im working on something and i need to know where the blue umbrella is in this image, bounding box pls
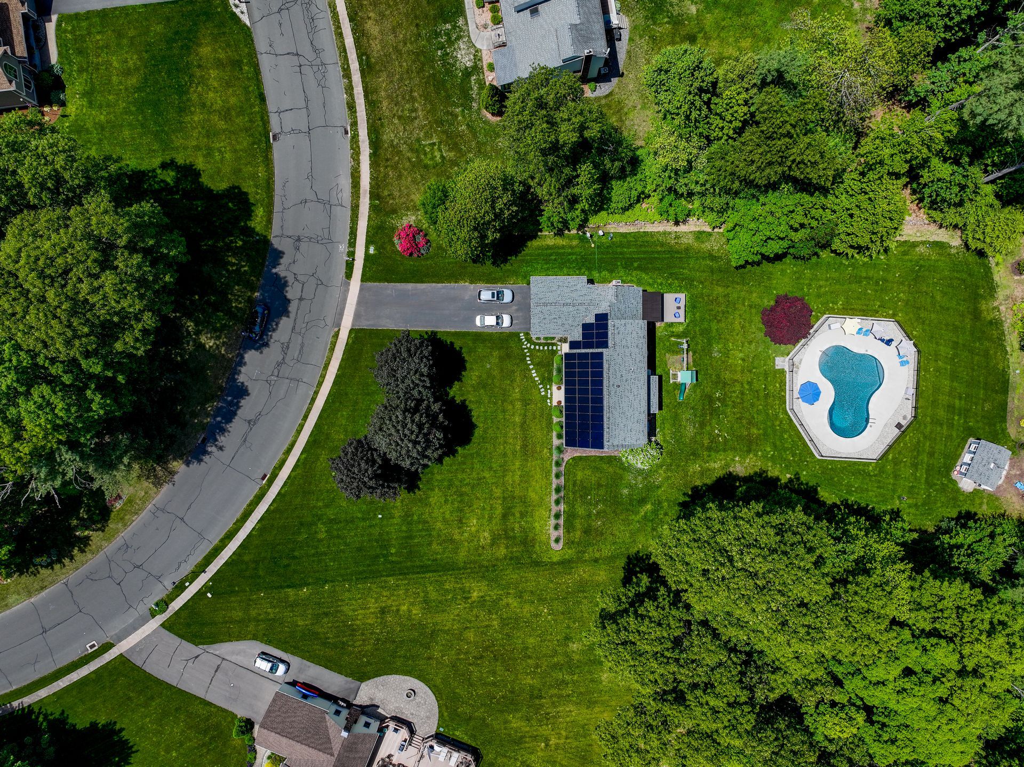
[793,381,820,404]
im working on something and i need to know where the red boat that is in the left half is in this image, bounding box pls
[296,682,319,695]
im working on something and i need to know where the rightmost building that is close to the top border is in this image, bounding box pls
[491,0,627,92]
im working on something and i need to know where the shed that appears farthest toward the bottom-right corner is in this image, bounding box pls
[957,440,1012,492]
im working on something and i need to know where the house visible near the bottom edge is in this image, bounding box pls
[254,684,381,767]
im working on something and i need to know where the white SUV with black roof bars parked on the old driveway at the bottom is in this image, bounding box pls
[252,653,290,678]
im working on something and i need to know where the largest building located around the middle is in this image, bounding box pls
[530,276,658,451]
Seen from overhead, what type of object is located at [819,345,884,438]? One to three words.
swimming pool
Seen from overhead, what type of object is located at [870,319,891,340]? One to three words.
umbrella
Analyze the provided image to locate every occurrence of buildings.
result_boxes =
[530,276,658,451]
[254,684,381,767]
[957,440,1012,492]
[0,0,52,108]
[491,0,627,92]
